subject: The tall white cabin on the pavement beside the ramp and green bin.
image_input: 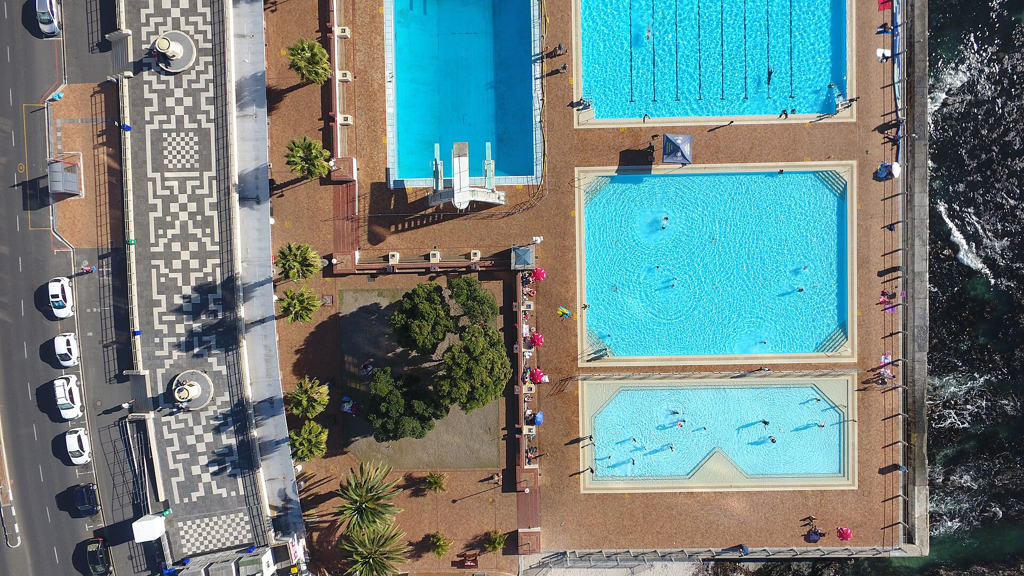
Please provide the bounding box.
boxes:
[132,507,172,542]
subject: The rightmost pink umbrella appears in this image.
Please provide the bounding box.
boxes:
[836,526,852,541]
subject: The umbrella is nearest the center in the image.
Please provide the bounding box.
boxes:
[532,267,546,282]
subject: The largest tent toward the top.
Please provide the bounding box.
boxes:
[658,132,694,171]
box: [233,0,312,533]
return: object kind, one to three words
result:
building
